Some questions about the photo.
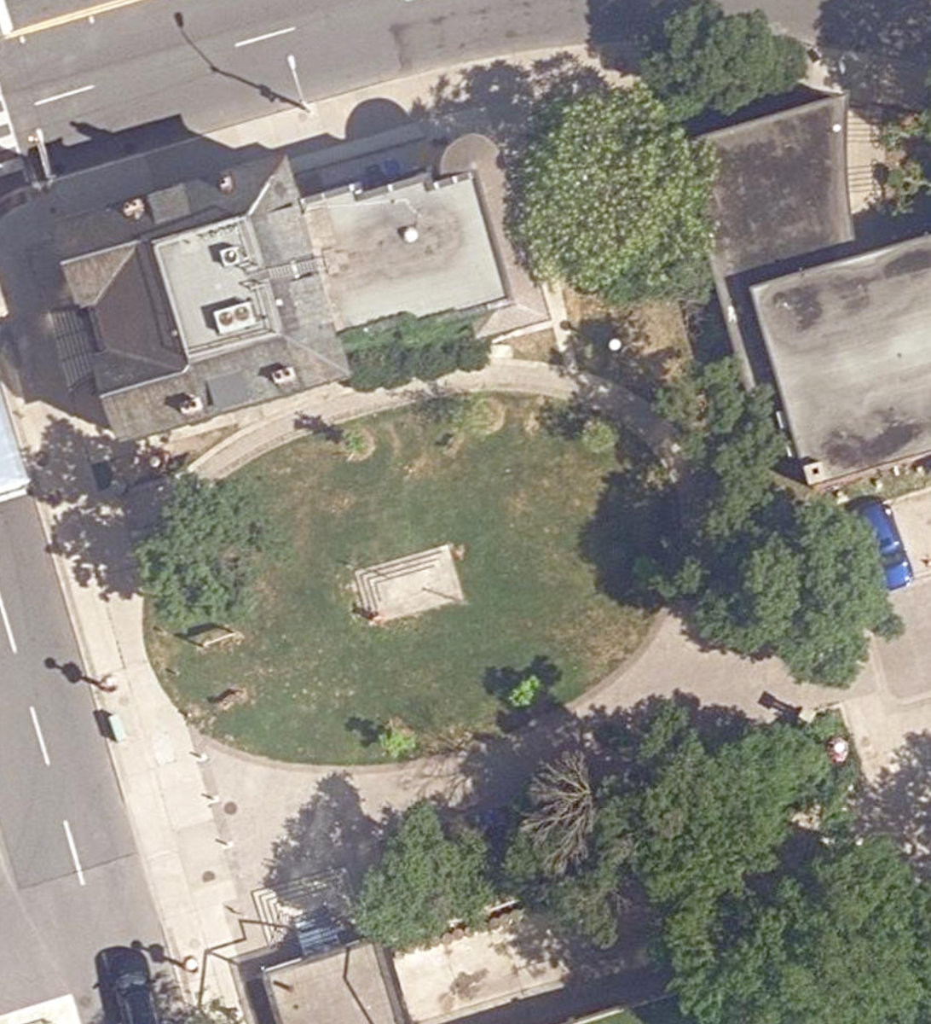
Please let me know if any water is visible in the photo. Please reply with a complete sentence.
No, there is no water in the image.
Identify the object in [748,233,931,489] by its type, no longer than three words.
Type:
building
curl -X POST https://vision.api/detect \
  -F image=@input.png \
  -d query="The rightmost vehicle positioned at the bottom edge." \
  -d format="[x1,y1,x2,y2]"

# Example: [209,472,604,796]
[105,938,164,1024]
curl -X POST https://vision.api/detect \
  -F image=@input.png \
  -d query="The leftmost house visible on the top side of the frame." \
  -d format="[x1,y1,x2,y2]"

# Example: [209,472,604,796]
[51,155,351,442]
